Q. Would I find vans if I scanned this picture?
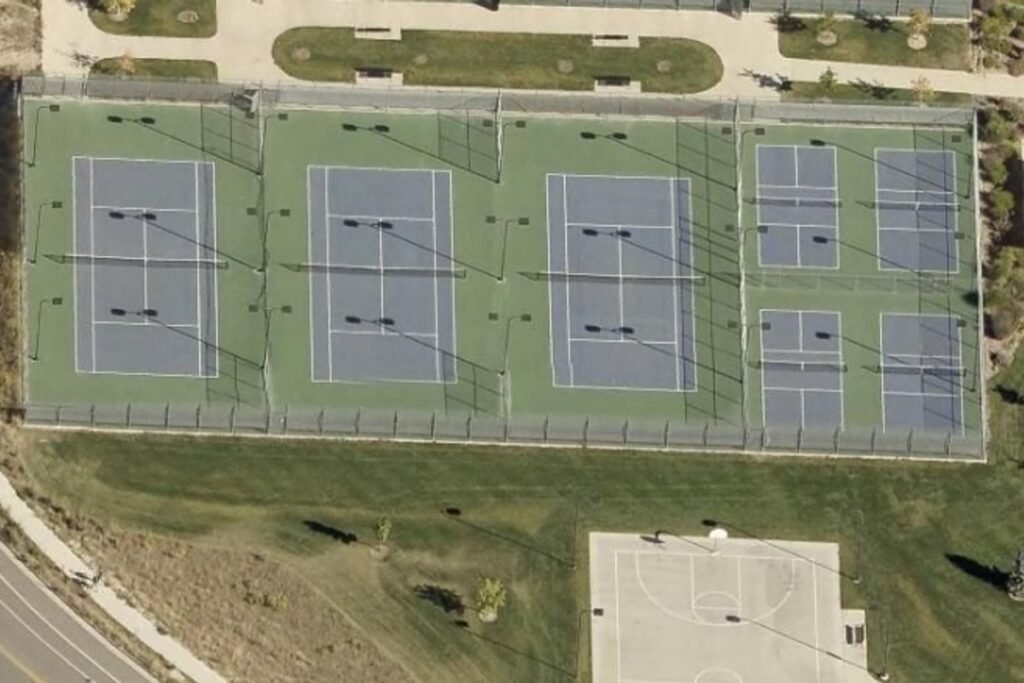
No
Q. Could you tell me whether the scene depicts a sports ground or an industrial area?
sports ground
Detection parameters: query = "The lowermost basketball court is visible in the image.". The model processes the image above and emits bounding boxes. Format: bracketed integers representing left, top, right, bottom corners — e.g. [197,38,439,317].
[590,533,880,683]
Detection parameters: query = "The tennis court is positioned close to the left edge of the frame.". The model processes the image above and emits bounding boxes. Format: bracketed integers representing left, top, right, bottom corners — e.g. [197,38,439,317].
[24,99,267,435]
